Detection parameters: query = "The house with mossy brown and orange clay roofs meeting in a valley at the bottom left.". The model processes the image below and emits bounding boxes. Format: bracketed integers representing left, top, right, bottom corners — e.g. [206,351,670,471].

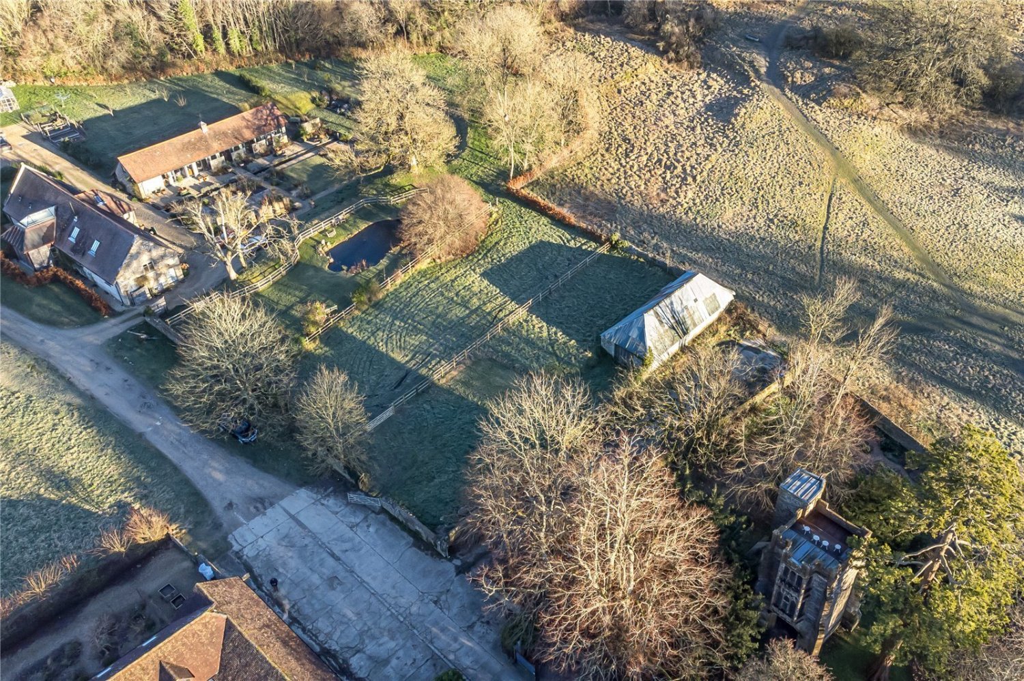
[88,570,340,681]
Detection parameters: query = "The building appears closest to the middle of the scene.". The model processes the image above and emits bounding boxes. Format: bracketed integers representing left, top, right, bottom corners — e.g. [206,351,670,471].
[591,267,740,381]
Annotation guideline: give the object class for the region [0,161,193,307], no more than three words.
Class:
house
